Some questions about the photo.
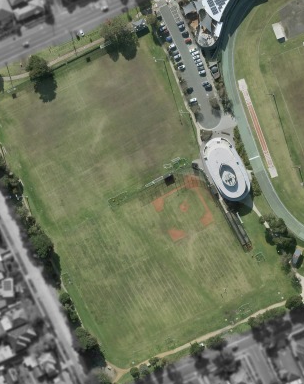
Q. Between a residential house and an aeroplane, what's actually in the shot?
residential house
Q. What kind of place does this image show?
sports ground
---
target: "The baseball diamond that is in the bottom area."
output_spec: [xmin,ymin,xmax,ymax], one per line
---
[34,162,294,366]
